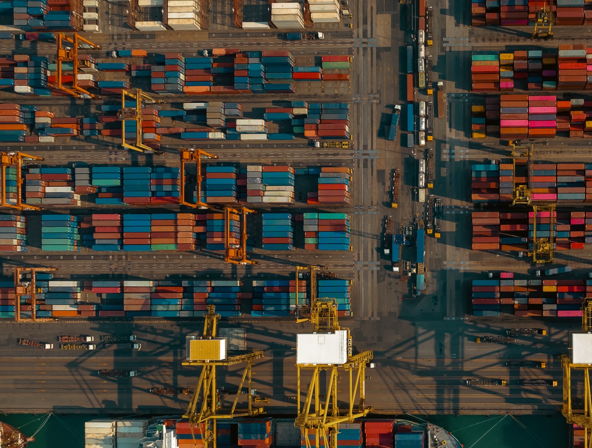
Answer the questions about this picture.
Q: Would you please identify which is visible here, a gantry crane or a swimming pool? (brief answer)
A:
gantry crane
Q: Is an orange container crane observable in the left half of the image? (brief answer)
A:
Yes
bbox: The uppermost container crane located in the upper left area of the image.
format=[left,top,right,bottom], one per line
[54,32,103,98]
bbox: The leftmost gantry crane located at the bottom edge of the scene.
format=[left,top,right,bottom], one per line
[183,301,269,448]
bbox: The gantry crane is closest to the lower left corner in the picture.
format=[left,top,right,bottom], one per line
[13,265,63,320]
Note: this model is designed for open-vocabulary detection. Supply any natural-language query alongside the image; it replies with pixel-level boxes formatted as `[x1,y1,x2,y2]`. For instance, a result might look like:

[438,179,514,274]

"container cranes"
[54,32,103,98]
[294,264,327,322]
[528,206,557,264]
[121,90,163,153]
[550,294,592,448]
[508,147,536,207]
[297,295,377,448]
[224,207,262,264]
[0,149,50,210]
[183,301,269,448]
[13,265,63,320]
[179,147,219,209]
